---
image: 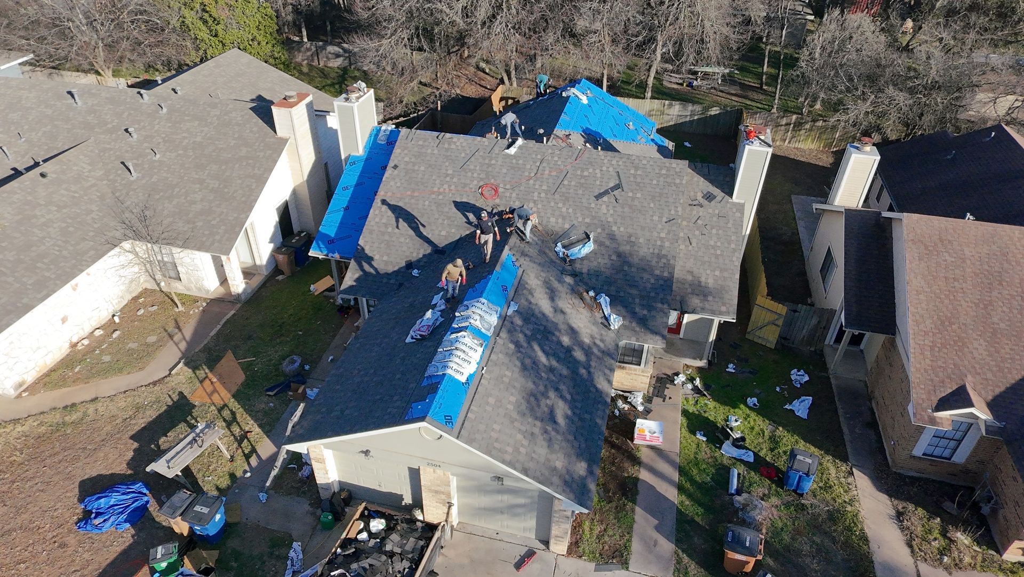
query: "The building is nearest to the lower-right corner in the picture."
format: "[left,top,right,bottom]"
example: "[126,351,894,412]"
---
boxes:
[801,110,1024,577]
